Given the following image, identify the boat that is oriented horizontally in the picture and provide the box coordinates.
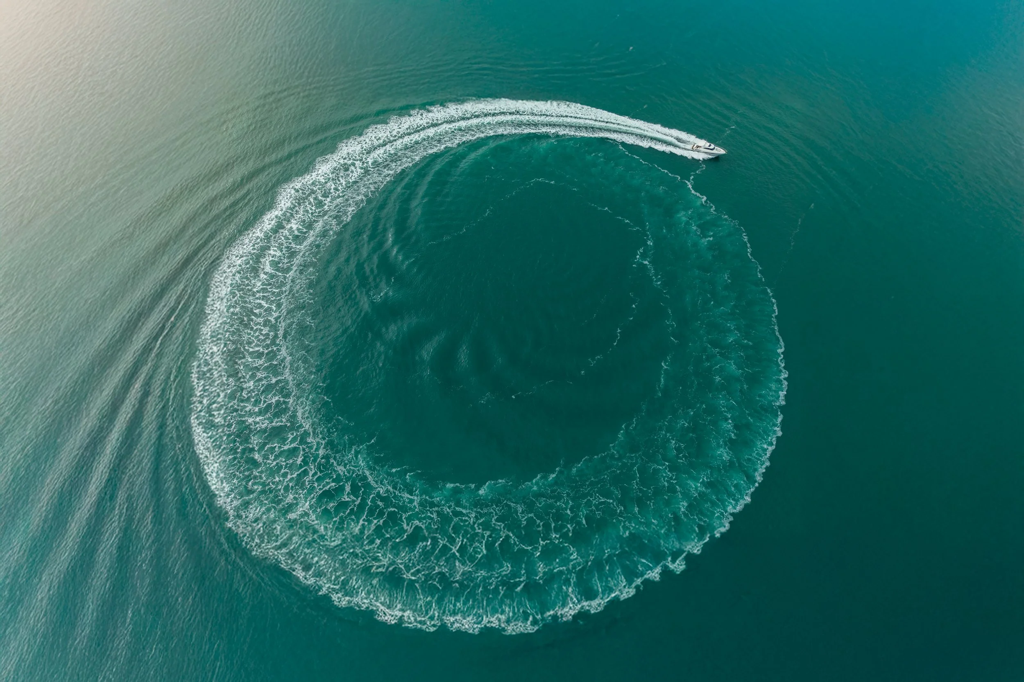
[691,140,727,154]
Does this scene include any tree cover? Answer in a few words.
No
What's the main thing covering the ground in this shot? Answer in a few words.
water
